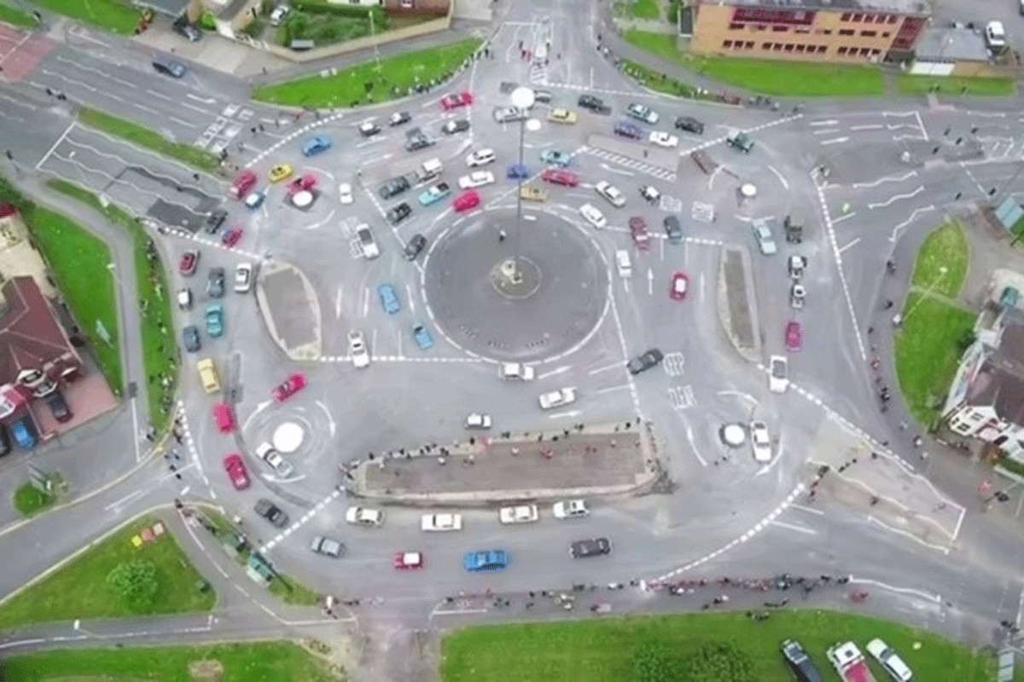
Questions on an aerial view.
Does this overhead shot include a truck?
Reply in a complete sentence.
Yes, you can see a truck in this photo.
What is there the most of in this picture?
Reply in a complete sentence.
Most of the picture is covered by paved ground.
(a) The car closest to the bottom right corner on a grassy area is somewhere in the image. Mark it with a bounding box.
[865,636,915,682]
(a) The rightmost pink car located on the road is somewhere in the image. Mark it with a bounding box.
[785,322,803,352]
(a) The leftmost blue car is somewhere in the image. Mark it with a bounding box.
[7,414,40,449]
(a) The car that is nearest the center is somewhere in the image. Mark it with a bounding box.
[497,364,535,381]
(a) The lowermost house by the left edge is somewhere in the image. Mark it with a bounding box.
[0,275,91,424]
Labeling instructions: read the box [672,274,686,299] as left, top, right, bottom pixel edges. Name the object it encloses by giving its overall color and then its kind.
white car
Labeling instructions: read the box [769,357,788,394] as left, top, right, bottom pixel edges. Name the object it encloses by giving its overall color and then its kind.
white vehicle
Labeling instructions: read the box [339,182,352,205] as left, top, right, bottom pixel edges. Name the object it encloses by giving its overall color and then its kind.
white vehicle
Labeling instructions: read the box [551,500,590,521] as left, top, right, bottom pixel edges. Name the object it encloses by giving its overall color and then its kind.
white car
